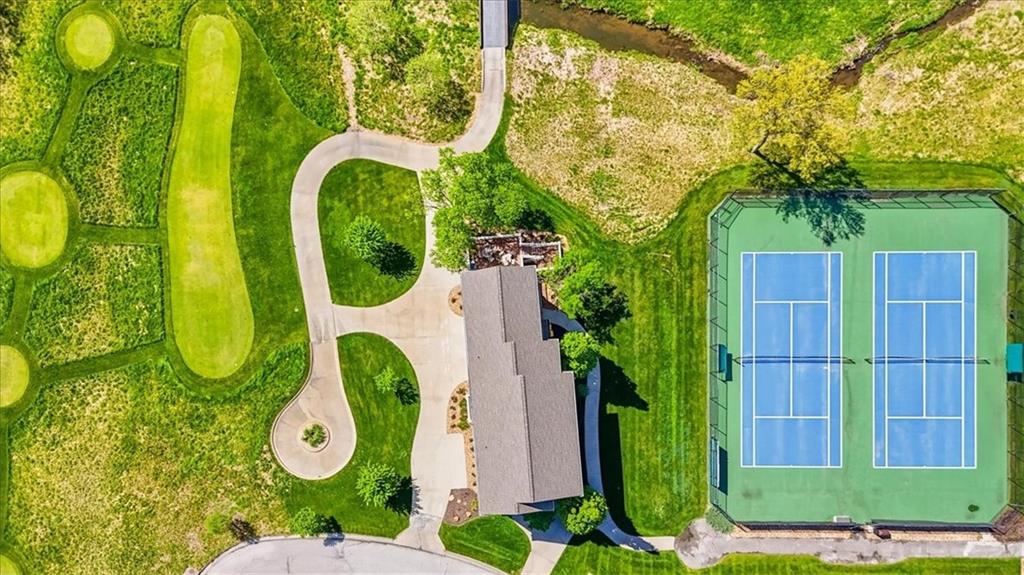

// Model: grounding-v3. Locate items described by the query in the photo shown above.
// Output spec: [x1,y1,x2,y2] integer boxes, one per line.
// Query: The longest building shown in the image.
[461,267,584,517]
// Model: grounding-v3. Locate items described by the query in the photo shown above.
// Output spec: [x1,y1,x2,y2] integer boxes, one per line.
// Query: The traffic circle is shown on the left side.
[271,352,356,480]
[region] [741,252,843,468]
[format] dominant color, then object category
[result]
blue tennis court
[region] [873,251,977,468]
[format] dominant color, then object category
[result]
blue tennis court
